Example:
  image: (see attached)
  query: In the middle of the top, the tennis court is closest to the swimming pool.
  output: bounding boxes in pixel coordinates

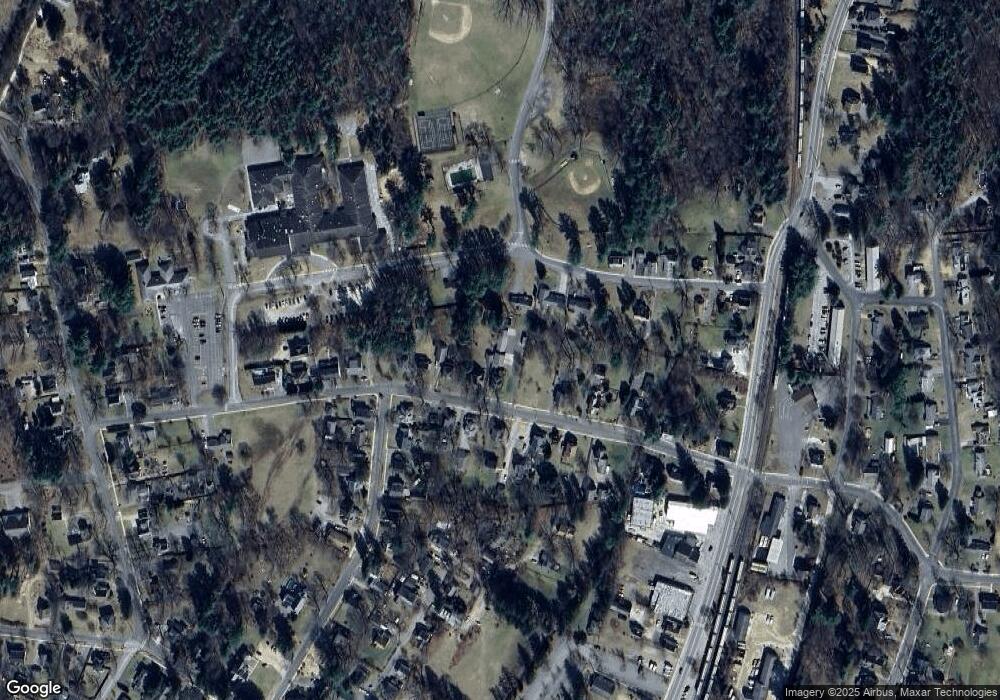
[411,107,455,152]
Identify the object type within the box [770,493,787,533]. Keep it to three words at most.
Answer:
building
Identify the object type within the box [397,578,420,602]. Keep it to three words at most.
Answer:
house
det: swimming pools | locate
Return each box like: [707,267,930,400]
[444,157,483,189]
